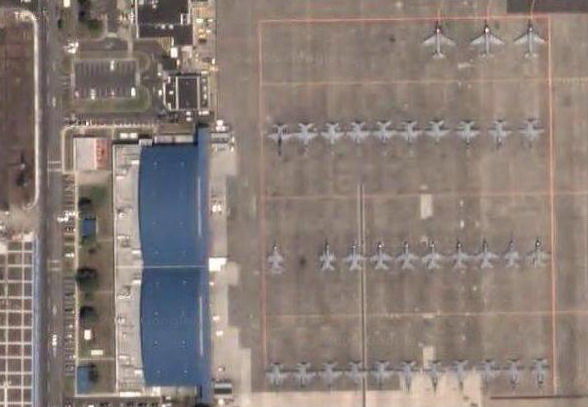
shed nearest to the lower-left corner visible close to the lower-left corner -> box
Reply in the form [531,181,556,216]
[78,366,93,392]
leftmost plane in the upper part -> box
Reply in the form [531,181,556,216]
[269,123,291,154]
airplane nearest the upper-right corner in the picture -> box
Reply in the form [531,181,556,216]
[514,20,546,56]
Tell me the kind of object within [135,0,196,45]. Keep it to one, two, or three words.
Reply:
building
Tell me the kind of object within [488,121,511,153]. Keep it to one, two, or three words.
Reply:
airplane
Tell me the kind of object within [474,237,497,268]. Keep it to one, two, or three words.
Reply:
airplane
